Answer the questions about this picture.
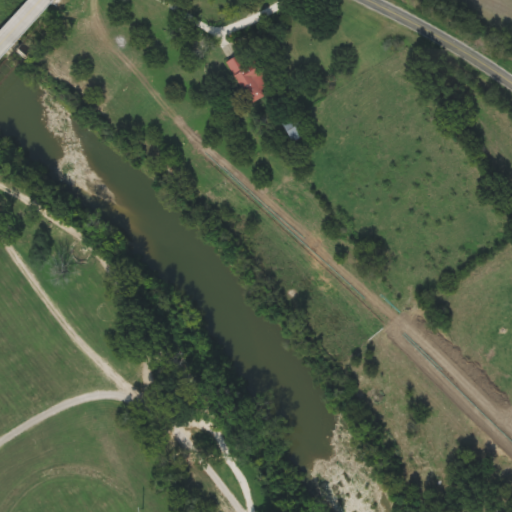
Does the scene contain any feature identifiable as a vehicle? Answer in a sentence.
No, this view has no vehicle in it.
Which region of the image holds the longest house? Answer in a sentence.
The longest house is located in the top region of the scene.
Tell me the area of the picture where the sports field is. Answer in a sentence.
Look in the bottom left portion of the view to spot the sports field.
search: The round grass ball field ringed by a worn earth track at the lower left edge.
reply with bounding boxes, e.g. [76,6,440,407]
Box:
[0,464,141,512]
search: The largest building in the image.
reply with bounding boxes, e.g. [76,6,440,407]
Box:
[226,57,266,102]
